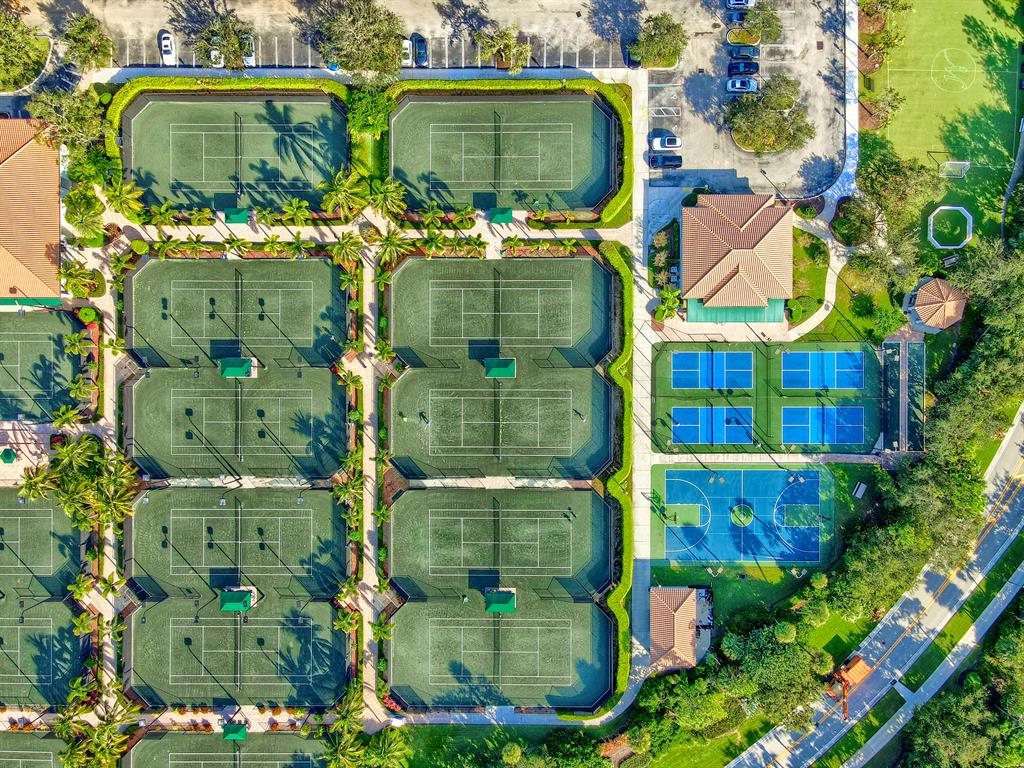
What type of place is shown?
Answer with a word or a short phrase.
sports ground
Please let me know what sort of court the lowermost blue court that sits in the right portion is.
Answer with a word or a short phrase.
basketball court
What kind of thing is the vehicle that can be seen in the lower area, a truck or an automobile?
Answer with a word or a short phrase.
truck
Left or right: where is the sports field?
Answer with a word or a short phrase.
right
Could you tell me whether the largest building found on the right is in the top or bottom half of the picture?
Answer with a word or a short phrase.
top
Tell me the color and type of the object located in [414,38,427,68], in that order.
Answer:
blue vehicle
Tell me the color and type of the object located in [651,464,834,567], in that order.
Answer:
blue basketball court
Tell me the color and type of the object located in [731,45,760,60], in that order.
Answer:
blue car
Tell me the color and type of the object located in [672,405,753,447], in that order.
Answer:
blue sports court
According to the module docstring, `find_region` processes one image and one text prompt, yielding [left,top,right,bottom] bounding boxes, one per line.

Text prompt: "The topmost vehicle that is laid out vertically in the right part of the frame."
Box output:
[628,40,641,69]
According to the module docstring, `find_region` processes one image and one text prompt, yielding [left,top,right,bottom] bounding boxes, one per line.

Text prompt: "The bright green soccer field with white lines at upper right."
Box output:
[863,0,1024,205]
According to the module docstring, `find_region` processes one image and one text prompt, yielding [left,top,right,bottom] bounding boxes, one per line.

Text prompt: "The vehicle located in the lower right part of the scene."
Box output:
[824,655,873,721]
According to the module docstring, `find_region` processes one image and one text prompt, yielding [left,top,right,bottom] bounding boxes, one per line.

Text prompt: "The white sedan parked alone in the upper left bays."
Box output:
[160,34,176,65]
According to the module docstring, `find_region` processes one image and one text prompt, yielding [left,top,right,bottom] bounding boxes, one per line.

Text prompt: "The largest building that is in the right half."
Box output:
[681,194,793,322]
